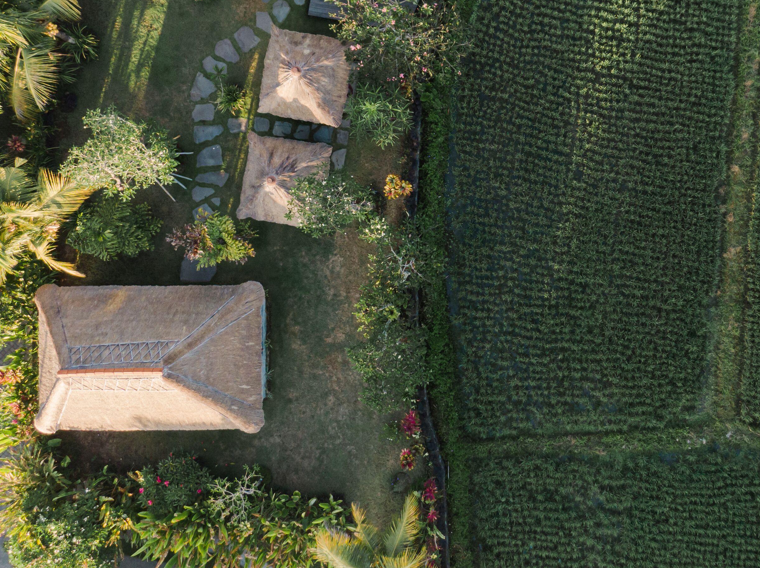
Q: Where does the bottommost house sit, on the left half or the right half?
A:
left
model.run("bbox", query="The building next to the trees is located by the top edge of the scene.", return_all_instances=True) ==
[260,25,349,126]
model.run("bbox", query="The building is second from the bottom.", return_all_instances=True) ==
[238,132,333,233]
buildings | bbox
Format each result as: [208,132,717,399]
[238,132,333,233]
[260,25,349,126]
[33,281,271,435]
